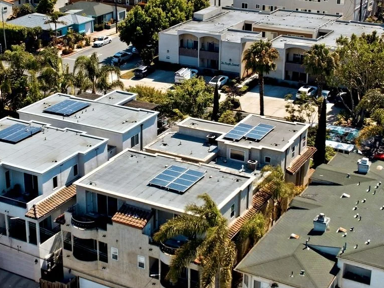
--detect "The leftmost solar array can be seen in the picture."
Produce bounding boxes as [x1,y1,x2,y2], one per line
[0,123,41,146]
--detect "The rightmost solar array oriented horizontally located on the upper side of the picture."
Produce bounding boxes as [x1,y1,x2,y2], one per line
[42,100,90,117]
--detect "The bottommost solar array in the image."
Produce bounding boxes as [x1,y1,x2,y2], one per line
[147,162,205,193]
